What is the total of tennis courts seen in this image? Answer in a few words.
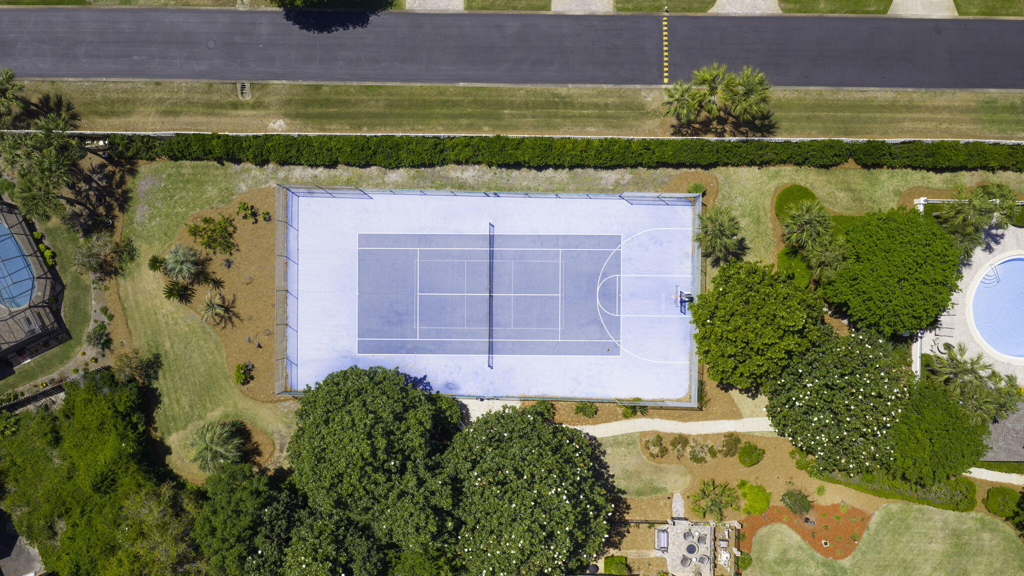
one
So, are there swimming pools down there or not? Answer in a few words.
Yes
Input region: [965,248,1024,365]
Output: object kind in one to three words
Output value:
swimming pool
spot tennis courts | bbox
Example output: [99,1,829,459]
[287,189,692,399]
